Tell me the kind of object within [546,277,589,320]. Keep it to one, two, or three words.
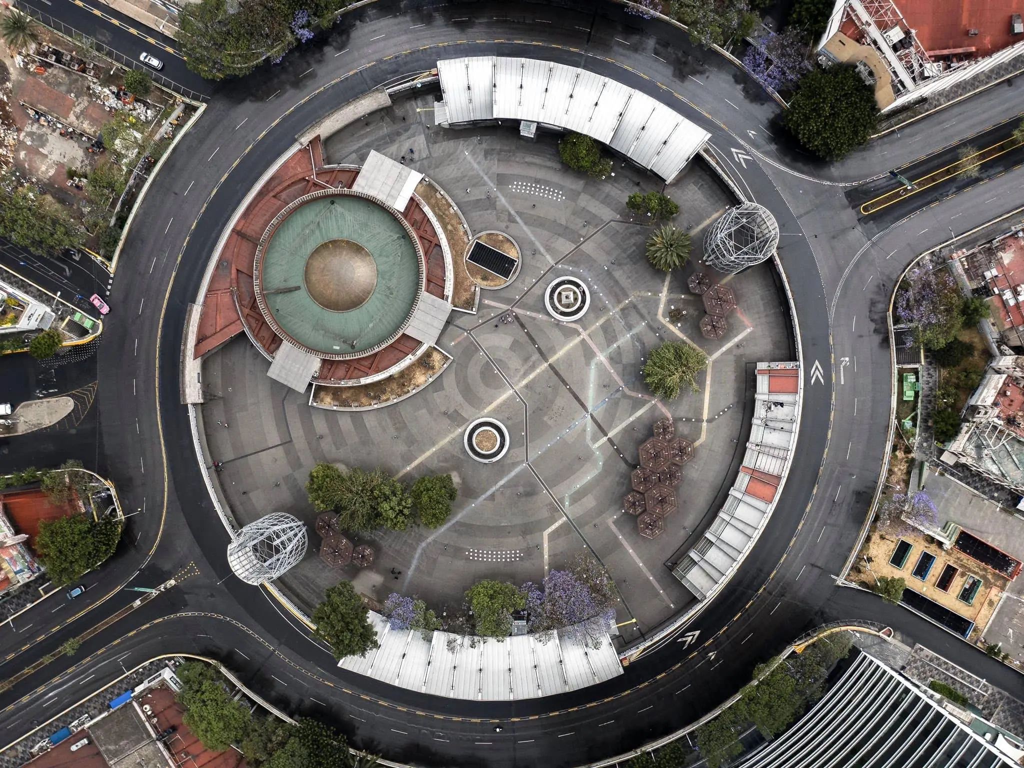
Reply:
fountain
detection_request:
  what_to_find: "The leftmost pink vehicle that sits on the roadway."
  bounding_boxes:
[88,291,108,315]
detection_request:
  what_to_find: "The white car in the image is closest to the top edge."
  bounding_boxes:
[138,51,162,69]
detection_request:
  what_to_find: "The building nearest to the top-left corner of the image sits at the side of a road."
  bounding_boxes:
[0,282,56,335]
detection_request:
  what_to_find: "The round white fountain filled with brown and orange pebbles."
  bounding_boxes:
[465,418,508,462]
